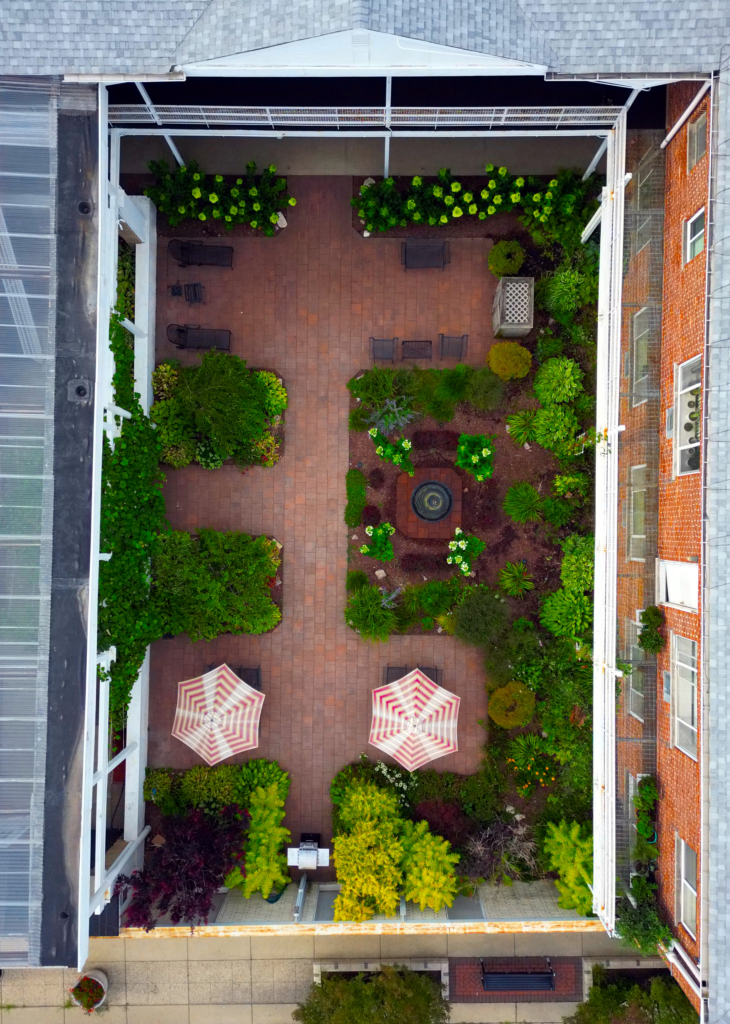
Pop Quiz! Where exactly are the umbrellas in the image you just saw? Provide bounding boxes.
[170,662,267,766]
[368,669,462,773]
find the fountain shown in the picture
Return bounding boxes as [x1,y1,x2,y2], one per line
[411,479,453,521]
